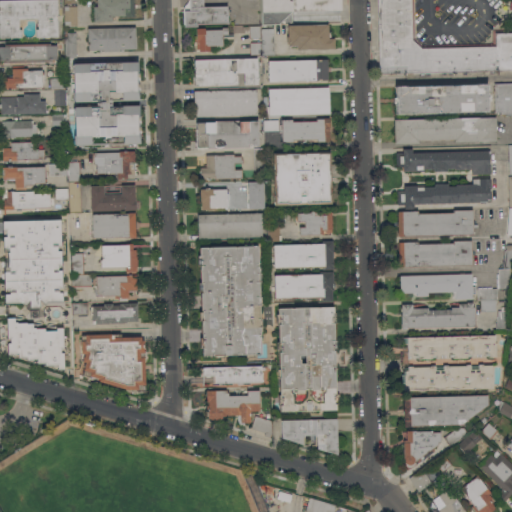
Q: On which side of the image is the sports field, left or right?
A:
left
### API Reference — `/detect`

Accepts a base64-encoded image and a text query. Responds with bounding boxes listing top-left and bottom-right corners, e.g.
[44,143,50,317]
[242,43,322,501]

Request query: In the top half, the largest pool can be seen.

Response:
[20,20,38,38]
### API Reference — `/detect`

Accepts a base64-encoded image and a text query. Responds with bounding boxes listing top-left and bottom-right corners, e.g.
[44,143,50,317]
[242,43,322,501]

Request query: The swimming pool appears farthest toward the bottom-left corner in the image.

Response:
[49,306,64,322]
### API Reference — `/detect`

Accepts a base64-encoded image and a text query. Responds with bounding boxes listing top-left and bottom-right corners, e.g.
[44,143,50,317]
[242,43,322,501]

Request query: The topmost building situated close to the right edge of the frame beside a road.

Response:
[380,0,512,73]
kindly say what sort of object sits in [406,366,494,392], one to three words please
building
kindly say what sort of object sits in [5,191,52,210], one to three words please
house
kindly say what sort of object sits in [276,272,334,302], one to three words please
building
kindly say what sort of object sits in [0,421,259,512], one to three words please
sports field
